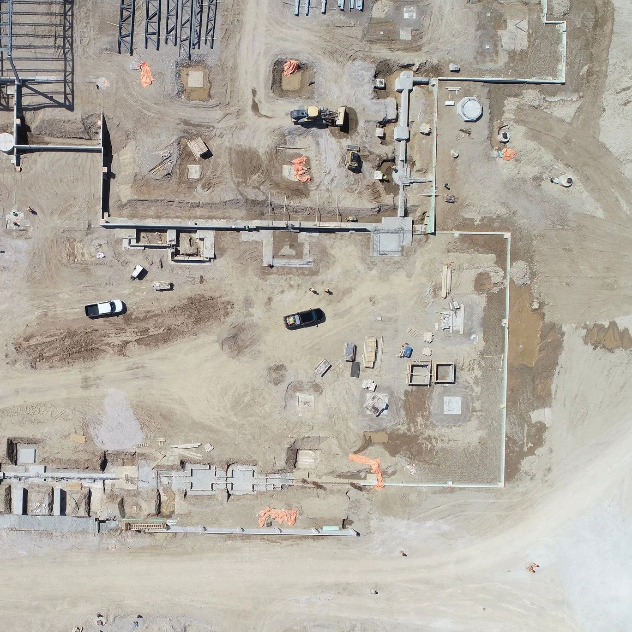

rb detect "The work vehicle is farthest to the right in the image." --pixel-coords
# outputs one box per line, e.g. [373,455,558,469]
[346,144,362,169]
